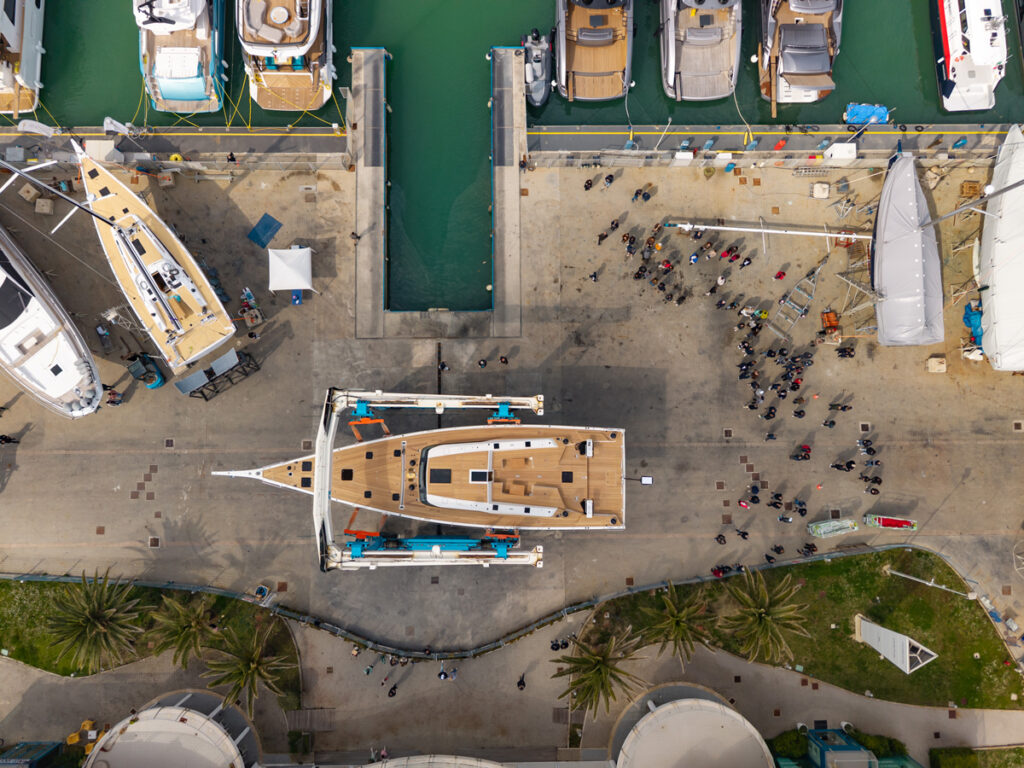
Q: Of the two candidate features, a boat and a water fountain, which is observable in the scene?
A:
boat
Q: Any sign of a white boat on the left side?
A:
Yes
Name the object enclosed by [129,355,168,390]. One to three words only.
work vehicle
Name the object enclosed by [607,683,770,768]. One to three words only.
building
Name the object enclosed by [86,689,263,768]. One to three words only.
building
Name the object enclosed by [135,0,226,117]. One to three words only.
boat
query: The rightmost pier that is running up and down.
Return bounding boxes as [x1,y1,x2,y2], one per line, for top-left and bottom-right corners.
[490,46,526,336]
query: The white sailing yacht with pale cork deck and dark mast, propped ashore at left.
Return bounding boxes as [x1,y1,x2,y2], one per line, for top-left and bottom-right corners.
[0,139,235,367]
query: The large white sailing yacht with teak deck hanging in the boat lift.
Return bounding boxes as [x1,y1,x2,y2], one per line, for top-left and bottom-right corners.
[211,425,652,529]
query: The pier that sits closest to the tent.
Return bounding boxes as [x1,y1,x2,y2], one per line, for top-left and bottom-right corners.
[351,46,389,336]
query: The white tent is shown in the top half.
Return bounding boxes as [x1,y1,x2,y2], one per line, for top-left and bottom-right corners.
[269,247,322,299]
